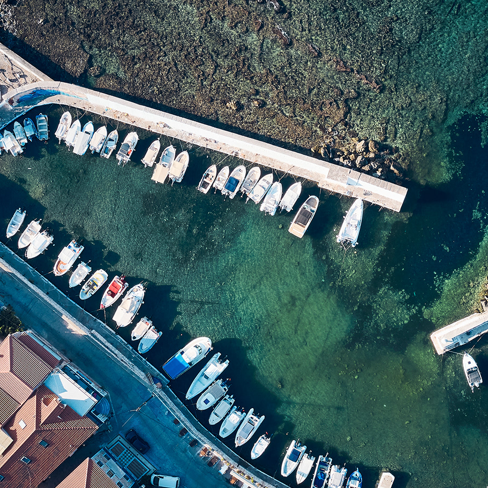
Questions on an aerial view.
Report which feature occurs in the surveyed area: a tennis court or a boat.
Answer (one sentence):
Visible in the photo is a boat.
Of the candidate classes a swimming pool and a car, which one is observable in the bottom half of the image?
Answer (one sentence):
There is a car in the bottom half of the image.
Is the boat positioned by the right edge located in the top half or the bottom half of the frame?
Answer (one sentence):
The boat positioned by the right edge is in the bottom half of the image.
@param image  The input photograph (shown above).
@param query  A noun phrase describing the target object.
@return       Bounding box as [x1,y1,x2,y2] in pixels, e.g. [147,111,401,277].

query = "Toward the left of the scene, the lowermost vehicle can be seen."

[150,473,182,488]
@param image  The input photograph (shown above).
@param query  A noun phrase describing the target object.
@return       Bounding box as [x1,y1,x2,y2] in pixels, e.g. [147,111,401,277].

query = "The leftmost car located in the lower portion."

[124,427,153,456]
